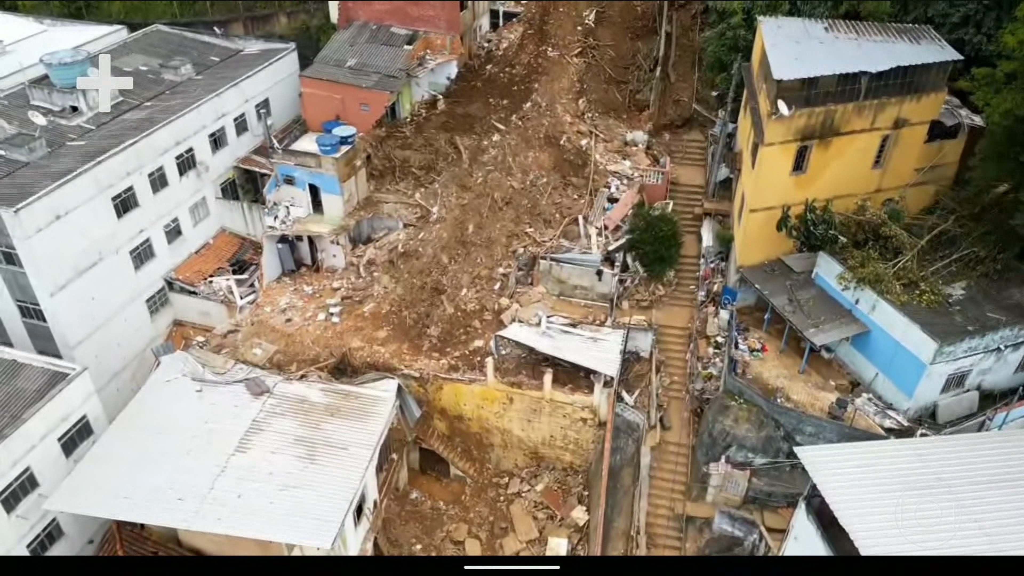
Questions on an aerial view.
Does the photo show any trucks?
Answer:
No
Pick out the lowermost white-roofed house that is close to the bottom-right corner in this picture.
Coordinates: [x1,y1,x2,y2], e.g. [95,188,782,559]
[776,429,1024,576]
